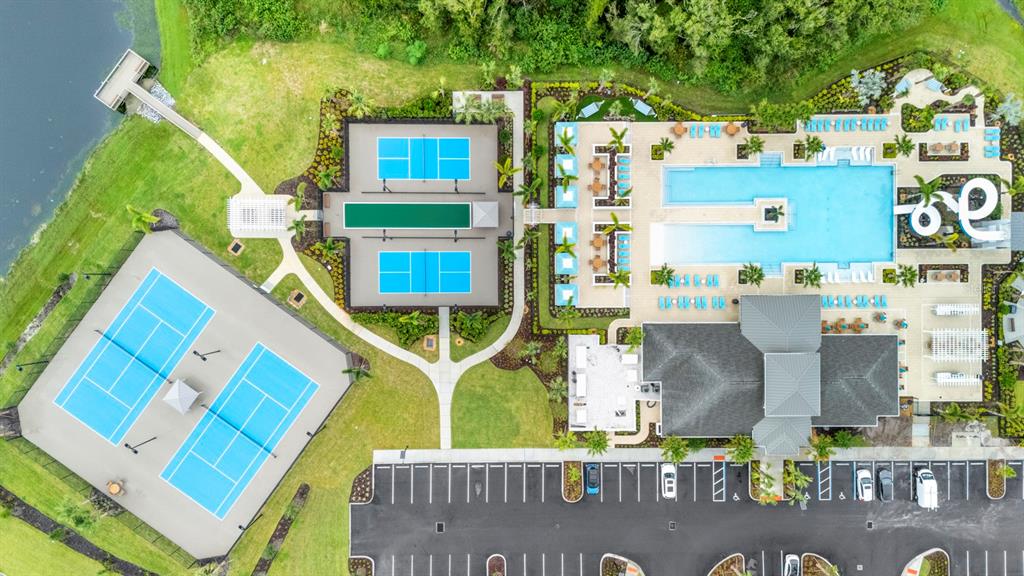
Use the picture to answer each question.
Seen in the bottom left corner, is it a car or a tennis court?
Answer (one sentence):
Visible in the bottom left corner is a tennis court.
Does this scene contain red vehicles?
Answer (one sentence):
No, no red vehicle can be seen from above.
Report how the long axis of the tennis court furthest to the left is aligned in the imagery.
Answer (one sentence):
Seen from above, the tennis court furthest to the left lies diagonally.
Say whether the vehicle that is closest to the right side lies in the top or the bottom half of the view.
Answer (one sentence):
The vehicle that is closest to the right side sits in the bottom half of the picture.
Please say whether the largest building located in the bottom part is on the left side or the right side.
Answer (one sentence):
It is on the right.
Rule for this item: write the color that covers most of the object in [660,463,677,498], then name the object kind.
white car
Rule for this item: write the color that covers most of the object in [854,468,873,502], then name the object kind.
white car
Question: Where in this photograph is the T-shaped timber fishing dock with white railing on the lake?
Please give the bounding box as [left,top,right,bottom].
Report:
[94,49,204,142]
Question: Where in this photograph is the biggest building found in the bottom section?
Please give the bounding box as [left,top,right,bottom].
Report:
[641,294,899,456]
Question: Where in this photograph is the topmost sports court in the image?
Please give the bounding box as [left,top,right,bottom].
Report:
[377,133,470,183]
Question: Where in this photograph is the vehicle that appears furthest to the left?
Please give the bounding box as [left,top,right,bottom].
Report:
[586,463,601,494]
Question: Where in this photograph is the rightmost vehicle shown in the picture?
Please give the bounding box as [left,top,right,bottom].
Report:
[914,468,939,513]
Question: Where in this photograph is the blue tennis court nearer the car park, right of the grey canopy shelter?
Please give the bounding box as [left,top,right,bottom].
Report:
[160,343,320,520]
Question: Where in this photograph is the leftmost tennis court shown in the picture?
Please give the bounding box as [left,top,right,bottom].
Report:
[53,267,215,446]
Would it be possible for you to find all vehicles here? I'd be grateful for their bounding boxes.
[660,463,677,498]
[854,468,873,502]
[586,463,601,494]
[914,468,939,513]
[783,554,800,576]
[875,468,893,502]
